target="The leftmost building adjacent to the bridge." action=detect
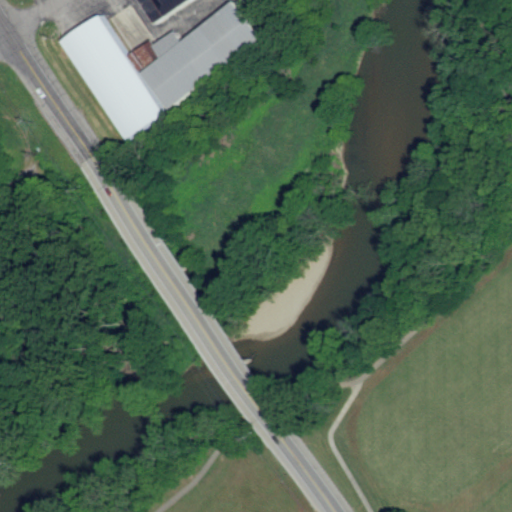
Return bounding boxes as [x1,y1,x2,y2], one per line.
[59,14,166,142]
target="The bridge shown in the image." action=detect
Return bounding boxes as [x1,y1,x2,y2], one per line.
[80,153,276,425]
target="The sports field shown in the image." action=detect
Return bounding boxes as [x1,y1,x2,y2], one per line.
[346,249,512,512]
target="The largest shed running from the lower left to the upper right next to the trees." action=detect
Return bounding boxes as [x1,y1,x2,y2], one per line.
[142,2,256,109]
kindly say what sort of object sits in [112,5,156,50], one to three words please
building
